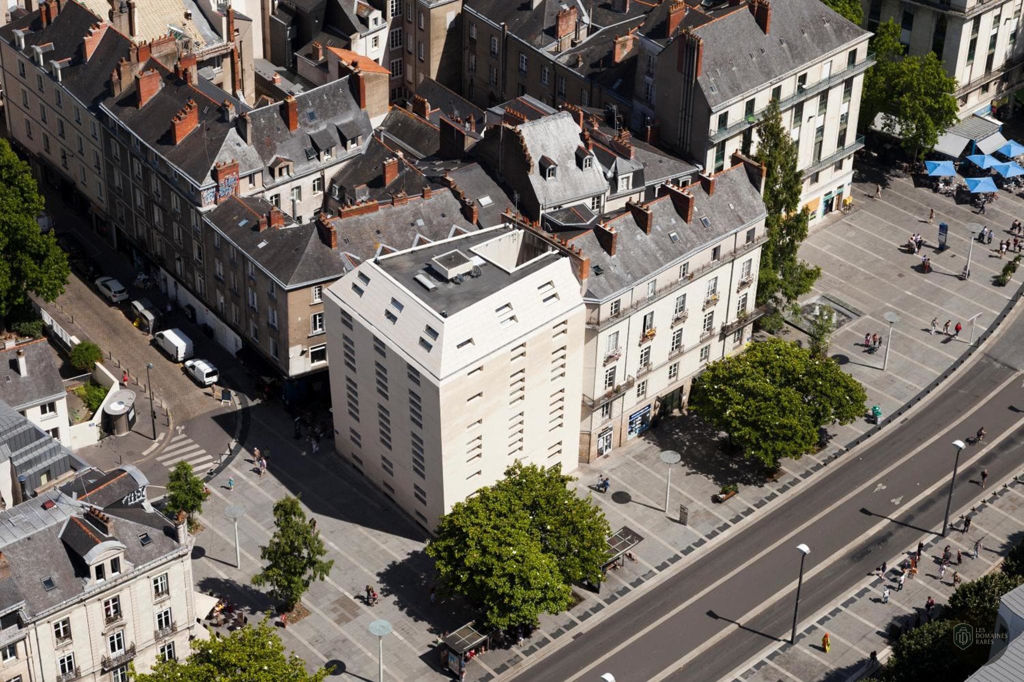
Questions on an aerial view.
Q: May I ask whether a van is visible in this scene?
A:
Yes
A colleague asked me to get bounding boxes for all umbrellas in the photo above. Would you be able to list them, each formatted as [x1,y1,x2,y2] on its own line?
[196,588,228,618]
[991,161,1024,195]
[958,178,1004,211]
[961,153,1002,178]
[917,162,962,195]
[988,141,1024,164]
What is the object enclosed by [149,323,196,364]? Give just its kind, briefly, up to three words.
van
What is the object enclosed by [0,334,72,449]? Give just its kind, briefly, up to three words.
house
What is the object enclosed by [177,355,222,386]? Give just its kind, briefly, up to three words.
van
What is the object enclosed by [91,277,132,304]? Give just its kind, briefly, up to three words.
car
